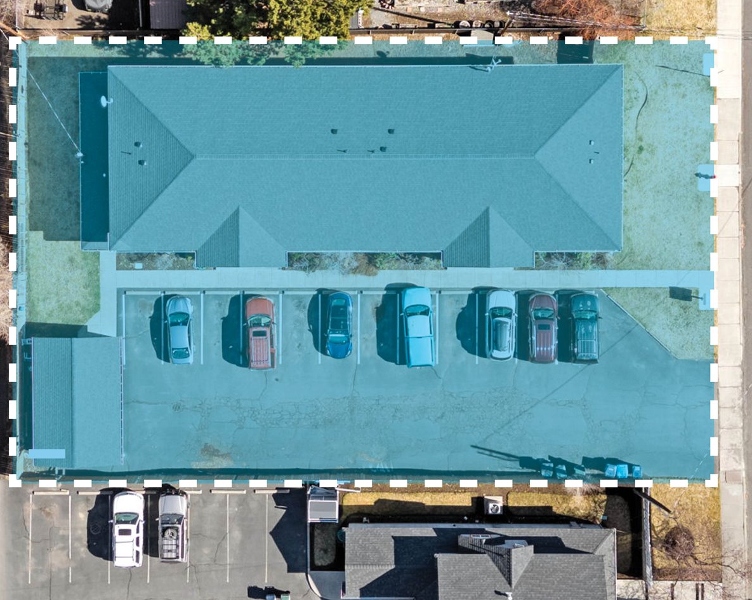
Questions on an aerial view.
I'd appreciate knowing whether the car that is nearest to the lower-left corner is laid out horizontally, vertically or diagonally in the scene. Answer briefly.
vertically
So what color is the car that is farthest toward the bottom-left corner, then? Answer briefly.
white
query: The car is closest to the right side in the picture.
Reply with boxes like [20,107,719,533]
[569,292,602,362]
